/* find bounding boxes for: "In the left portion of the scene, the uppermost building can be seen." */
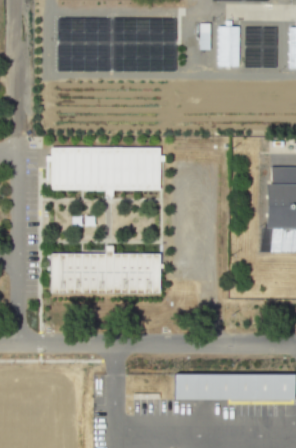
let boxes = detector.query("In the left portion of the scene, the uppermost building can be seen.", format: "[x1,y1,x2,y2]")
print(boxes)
[46,146,165,198]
